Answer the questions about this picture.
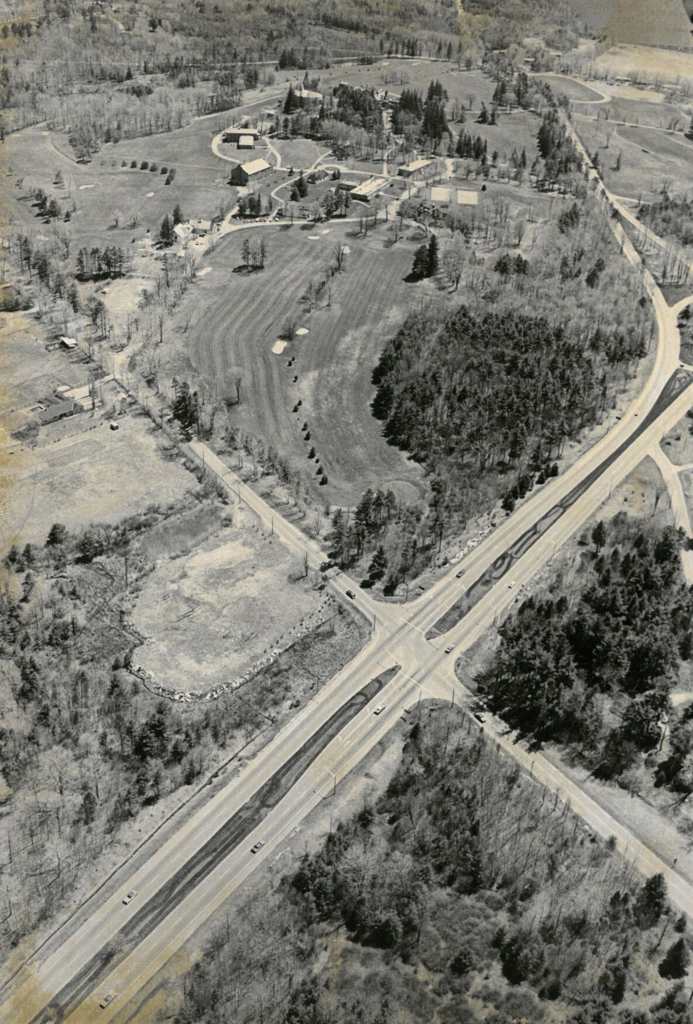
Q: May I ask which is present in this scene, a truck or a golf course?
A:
golf course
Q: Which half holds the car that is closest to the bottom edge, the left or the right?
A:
left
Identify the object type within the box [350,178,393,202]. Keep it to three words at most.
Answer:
building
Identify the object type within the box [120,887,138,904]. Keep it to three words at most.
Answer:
car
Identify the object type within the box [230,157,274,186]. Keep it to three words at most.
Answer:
barn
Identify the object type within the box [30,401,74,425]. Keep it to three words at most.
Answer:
house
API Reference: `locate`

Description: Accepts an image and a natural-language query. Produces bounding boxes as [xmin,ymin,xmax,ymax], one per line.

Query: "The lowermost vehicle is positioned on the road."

[96,989,116,1009]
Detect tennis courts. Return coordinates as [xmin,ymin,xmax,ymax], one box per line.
[431,187,452,201]
[457,190,478,204]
